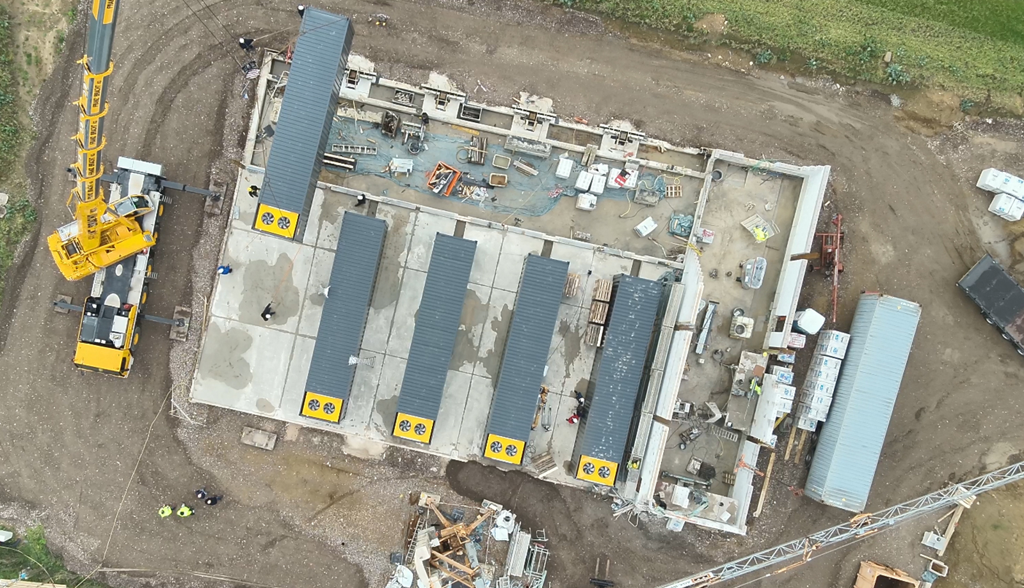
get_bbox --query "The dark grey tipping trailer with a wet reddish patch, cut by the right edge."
[953,253,1024,362]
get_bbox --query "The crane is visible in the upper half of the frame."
[39,0,223,378]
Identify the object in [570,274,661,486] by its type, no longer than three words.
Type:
shipping container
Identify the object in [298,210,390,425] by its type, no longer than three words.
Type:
shipping container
